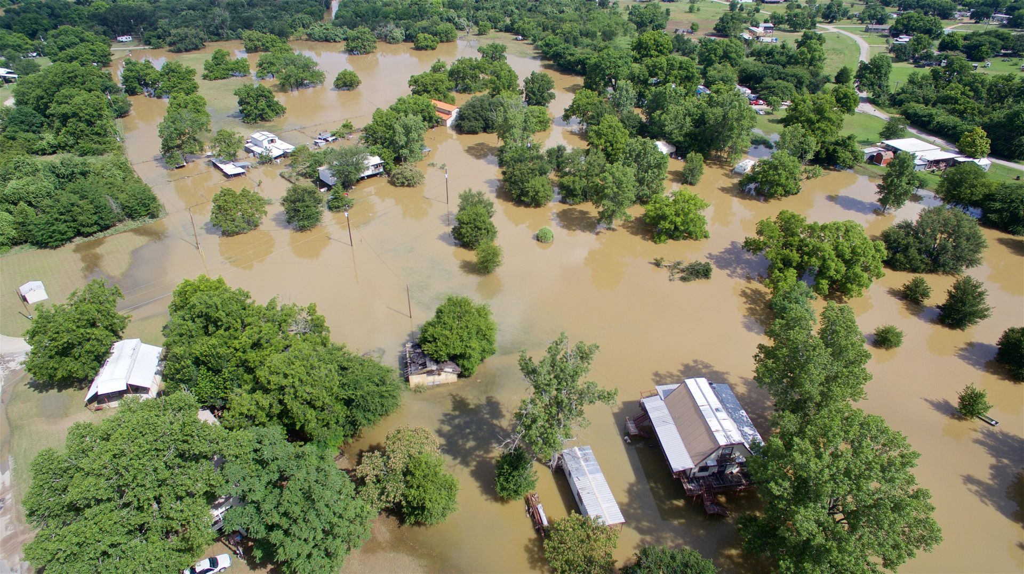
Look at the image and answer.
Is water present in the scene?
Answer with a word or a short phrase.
Yes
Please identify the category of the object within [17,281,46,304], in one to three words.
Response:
shed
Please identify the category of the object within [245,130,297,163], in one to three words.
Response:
barn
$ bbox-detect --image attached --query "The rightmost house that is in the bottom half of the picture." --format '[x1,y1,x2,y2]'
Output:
[619,373,784,540]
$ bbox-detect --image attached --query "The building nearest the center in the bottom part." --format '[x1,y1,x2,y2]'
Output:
[402,343,460,388]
